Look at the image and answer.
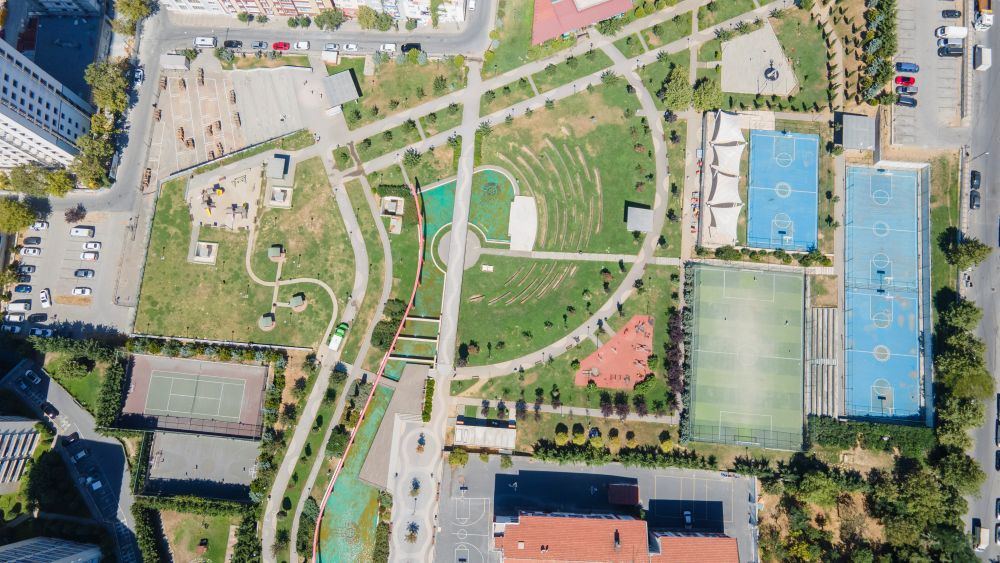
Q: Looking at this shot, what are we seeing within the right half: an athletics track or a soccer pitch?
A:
soccer pitch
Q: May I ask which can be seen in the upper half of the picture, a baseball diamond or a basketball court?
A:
basketball court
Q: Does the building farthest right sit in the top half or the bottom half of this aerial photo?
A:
top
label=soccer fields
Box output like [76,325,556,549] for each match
[688,265,806,449]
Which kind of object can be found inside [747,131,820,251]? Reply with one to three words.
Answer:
basketball court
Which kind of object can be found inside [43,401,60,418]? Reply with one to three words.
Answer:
car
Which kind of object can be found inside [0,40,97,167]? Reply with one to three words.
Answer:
building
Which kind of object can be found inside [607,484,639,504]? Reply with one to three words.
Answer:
shed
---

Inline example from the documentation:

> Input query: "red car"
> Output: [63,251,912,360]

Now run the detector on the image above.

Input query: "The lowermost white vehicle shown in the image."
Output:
[973,525,990,550]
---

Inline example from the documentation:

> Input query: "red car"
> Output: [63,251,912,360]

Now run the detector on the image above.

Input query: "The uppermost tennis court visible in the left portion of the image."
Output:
[120,354,268,439]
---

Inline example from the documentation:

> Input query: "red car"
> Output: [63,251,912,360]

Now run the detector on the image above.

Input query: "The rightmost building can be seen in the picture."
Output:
[838,115,875,154]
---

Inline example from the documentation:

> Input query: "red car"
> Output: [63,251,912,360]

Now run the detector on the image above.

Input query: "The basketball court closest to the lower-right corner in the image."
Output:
[846,287,920,417]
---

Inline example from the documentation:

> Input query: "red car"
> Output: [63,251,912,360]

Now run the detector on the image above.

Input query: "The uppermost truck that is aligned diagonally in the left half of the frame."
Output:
[331,322,354,351]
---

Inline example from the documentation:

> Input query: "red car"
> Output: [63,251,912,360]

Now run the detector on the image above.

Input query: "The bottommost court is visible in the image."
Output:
[144,433,261,502]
